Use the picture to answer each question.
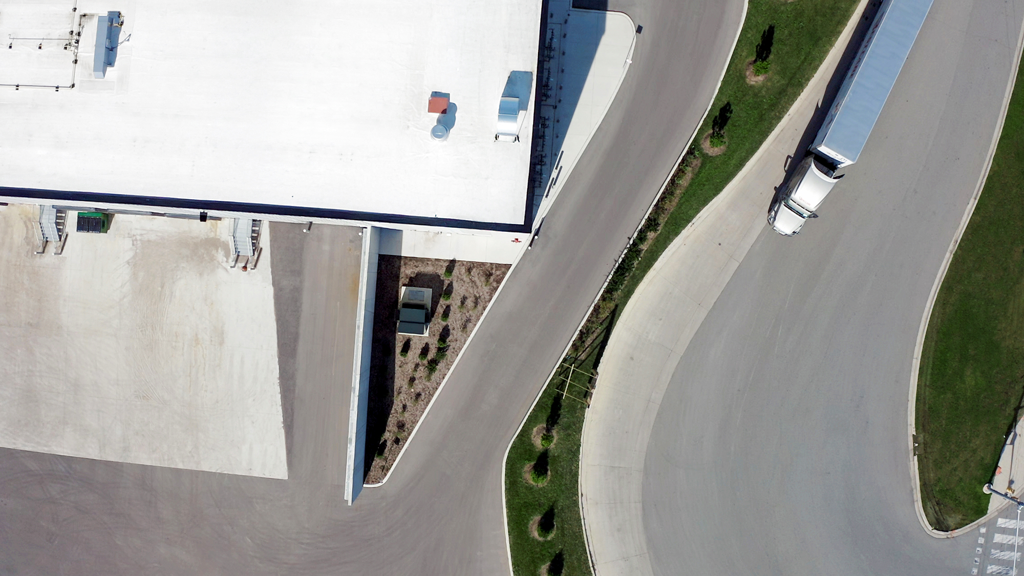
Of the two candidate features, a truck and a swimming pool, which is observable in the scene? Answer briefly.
truck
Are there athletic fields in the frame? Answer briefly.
No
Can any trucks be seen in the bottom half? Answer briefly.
No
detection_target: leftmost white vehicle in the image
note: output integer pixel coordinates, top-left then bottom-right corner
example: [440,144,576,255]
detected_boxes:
[769,123,846,242]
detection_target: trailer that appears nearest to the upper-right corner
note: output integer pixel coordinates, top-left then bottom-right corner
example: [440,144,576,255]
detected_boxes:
[807,0,936,168]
